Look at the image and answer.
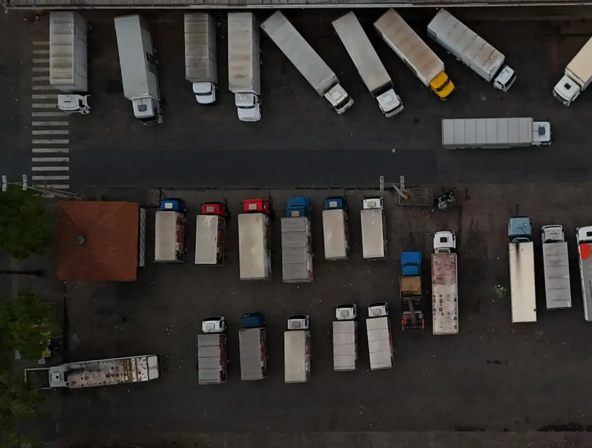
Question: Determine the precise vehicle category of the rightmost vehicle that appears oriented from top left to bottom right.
truck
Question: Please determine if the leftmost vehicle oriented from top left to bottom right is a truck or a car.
truck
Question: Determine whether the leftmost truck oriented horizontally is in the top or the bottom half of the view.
bottom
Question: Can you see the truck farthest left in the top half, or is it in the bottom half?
top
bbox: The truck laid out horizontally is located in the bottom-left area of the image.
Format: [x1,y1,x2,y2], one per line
[50,354,168,390]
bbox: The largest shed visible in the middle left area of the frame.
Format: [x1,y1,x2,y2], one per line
[57,200,155,281]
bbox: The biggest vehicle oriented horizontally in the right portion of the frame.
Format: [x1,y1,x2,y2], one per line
[442,117,554,151]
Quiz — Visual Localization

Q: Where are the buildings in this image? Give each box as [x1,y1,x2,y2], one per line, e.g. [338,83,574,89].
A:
[3,0,592,14]
[57,200,155,281]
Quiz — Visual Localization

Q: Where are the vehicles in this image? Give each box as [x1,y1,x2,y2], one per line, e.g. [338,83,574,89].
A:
[281,196,315,282]
[442,117,554,151]
[573,225,592,322]
[539,226,572,309]
[361,195,388,260]
[284,313,312,383]
[198,315,230,384]
[50,354,168,390]
[237,195,273,280]
[505,214,536,323]
[428,9,517,93]
[331,11,406,121]
[155,196,187,262]
[365,301,395,370]
[227,12,267,126]
[184,13,220,108]
[321,194,352,260]
[262,10,356,115]
[50,11,92,117]
[550,37,592,110]
[430,229,460,335]
[374,9,458,103]
[195,200,226,266]
[114,14,166,128]
[398,251,424,332]
[238,311,270,380]
[332,302,361,371]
